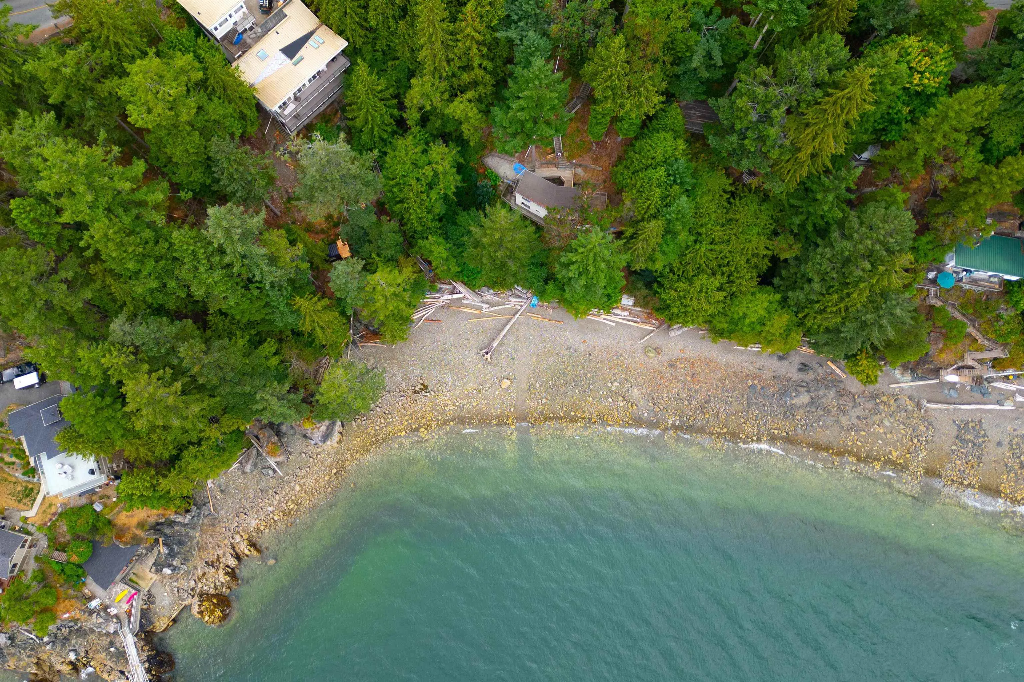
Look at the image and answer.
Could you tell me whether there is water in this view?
Yes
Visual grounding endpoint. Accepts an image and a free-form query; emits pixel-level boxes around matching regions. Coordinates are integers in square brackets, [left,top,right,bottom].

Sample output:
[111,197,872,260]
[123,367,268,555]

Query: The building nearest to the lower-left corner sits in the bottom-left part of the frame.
[0,526,42,580]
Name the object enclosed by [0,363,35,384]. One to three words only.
truck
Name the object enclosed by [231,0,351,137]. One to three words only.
house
